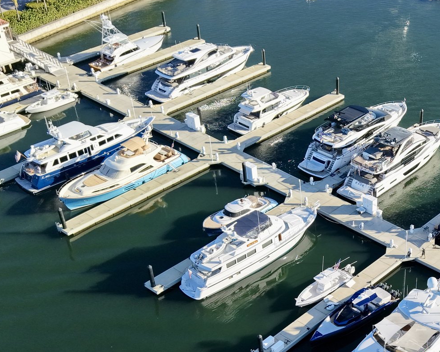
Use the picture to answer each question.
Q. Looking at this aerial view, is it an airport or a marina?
marina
